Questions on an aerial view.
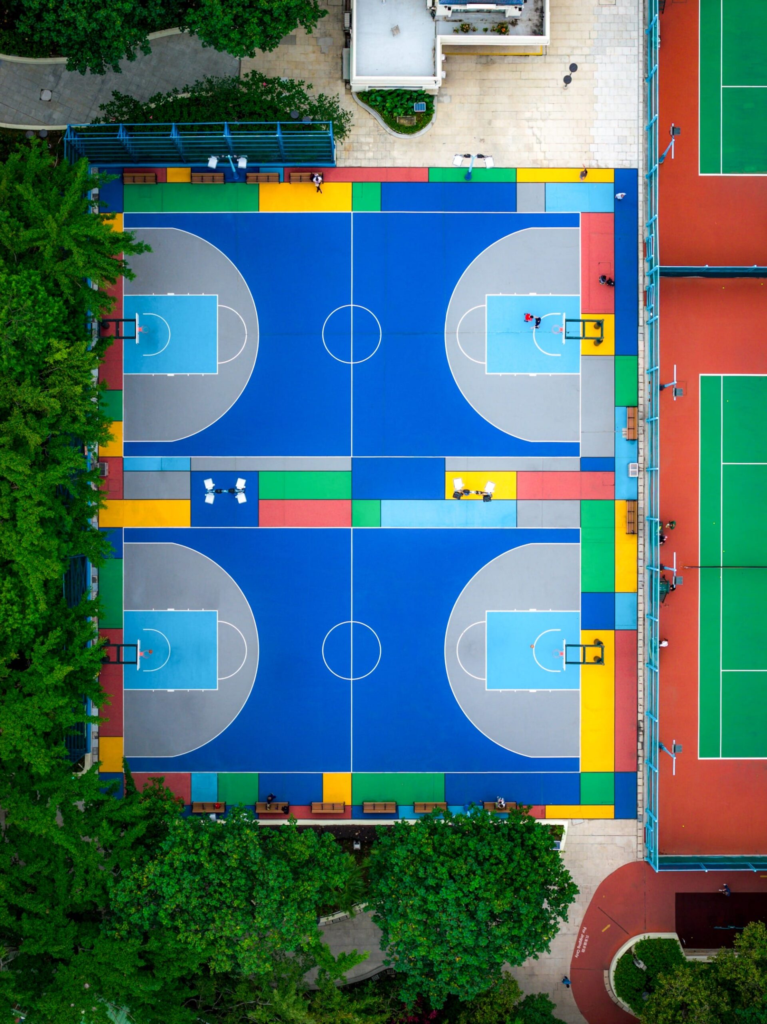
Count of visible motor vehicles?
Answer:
0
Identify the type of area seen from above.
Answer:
sports ground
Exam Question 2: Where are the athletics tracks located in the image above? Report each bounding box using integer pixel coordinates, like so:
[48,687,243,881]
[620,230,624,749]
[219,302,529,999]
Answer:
[570,858,767,1024]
